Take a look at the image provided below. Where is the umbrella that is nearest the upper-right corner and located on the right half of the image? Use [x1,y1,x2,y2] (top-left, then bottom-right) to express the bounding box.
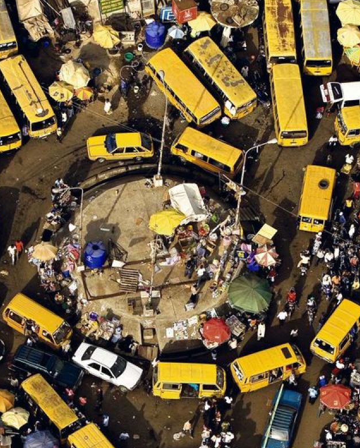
[335,0,360,26]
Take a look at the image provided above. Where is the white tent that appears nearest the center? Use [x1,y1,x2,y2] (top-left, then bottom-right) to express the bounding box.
[170,182,209,218]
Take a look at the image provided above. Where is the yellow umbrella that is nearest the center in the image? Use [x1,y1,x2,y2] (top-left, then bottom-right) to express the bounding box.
[149,211,184,242]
